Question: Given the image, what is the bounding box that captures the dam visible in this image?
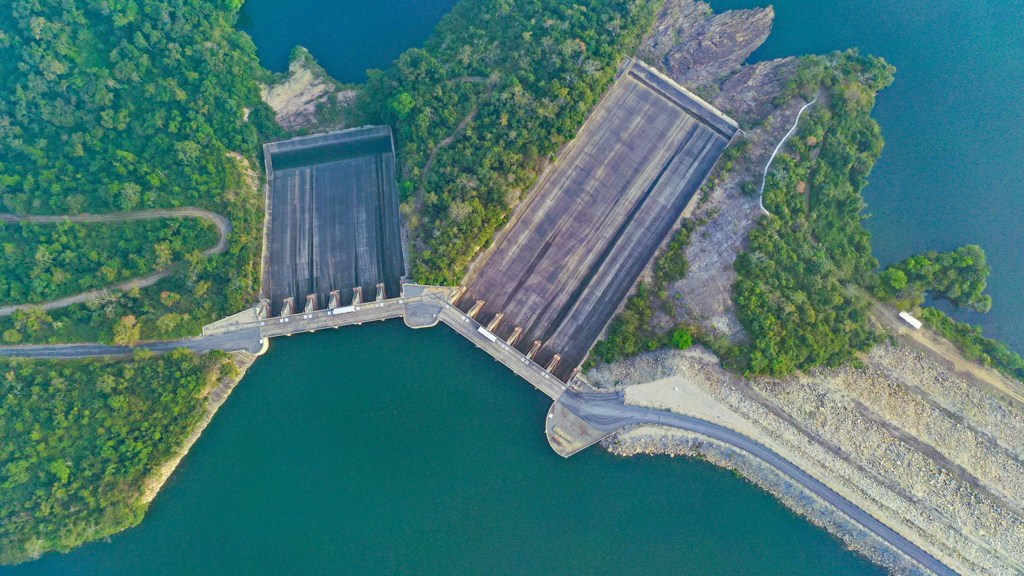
[590,343,1024,576]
